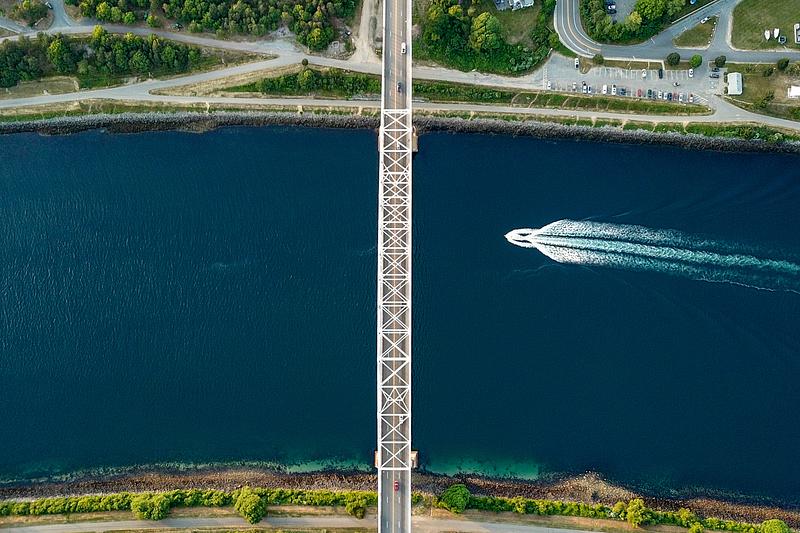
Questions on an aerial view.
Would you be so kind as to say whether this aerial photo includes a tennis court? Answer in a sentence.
No, there is no tennis court in the image.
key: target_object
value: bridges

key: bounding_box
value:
[375,0,419,533]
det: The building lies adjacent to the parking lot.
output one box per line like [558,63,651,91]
[726,72,742,95]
